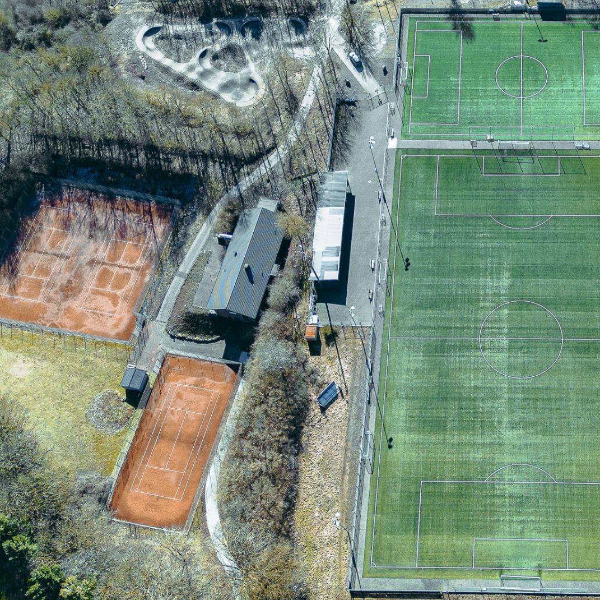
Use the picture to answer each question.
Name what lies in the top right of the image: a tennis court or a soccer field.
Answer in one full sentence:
Looking in the top right of the image, you will find a soccer field.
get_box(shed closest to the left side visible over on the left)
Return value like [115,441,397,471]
[120,368,149,392]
